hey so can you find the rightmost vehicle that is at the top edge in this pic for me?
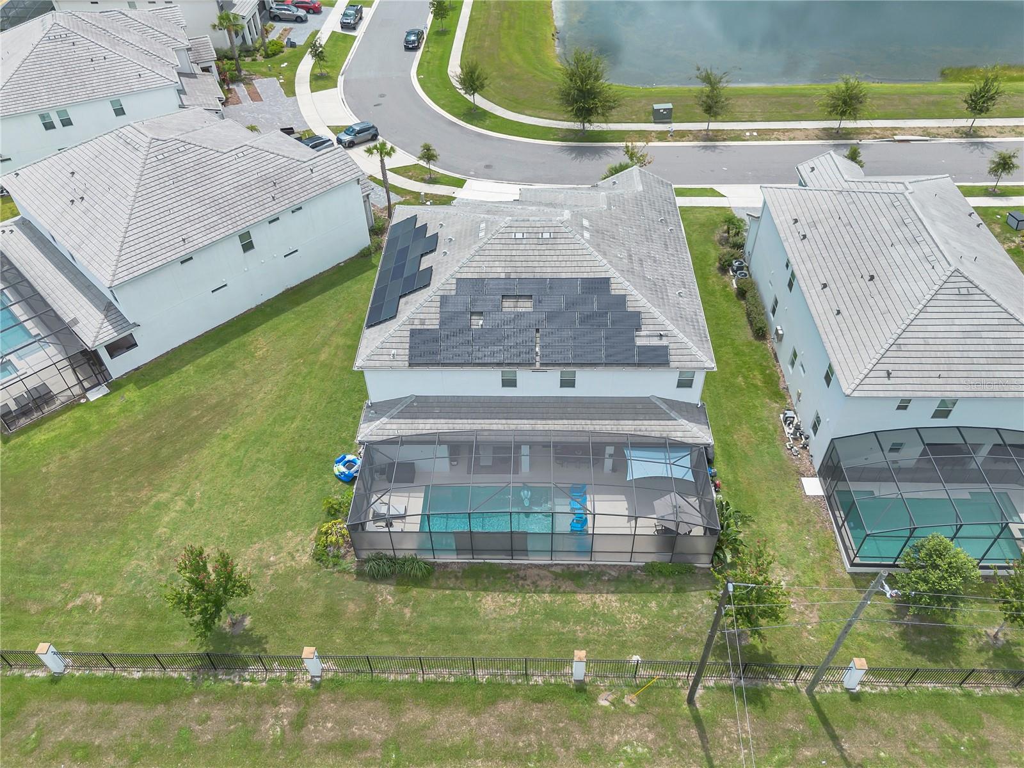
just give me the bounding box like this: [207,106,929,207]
[402,21,423,46]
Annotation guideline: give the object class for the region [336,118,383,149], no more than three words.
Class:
car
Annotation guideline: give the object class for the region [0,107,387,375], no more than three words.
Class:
house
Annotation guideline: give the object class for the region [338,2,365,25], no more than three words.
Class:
truck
